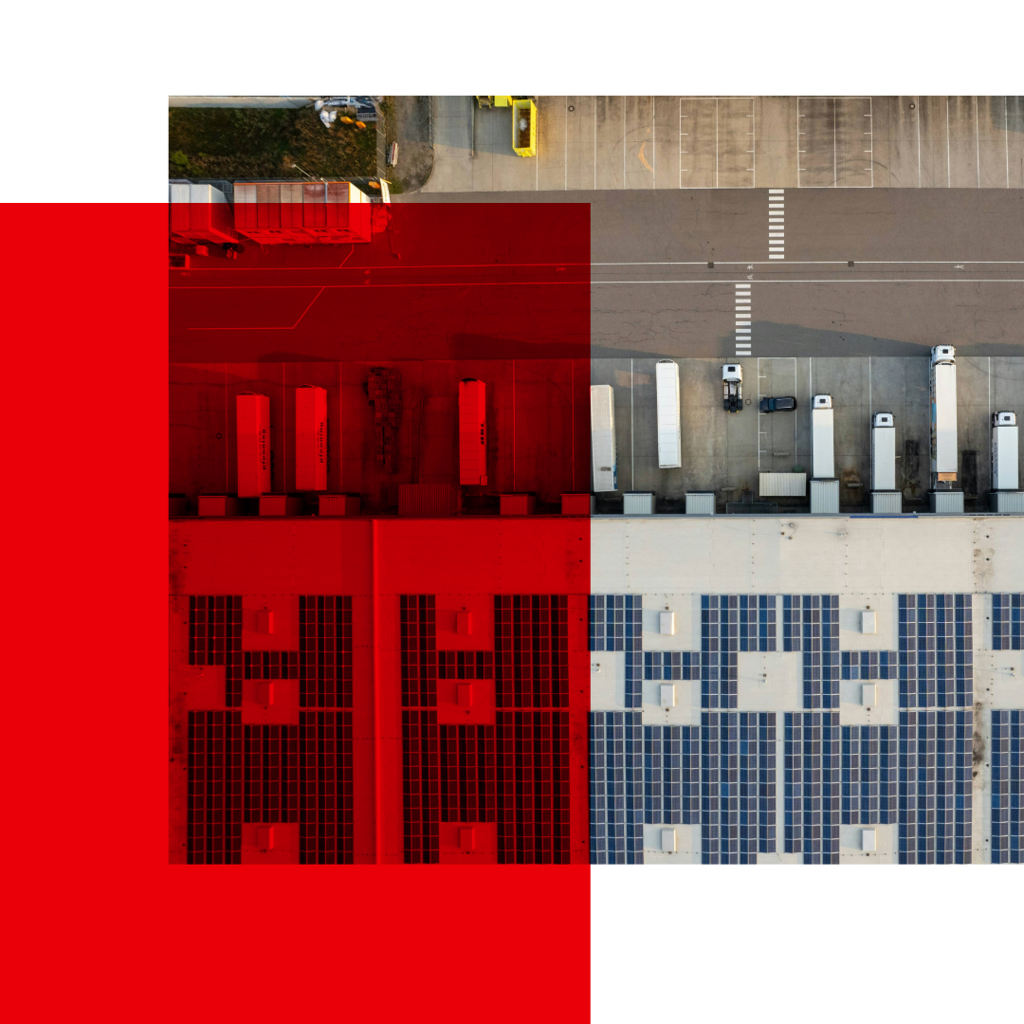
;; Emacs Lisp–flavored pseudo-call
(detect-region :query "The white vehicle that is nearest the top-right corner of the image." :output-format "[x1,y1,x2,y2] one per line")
[930,345,954,391]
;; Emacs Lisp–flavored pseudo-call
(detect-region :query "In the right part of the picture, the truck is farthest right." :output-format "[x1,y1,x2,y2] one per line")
[993,409,1019,489]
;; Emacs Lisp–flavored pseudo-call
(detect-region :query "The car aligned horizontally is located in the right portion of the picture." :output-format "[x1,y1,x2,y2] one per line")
[759,395,797,413]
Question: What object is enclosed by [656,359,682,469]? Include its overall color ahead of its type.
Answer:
white trailer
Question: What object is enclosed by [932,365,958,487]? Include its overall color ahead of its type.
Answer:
white trailer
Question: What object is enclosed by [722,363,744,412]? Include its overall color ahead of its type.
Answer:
white truck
